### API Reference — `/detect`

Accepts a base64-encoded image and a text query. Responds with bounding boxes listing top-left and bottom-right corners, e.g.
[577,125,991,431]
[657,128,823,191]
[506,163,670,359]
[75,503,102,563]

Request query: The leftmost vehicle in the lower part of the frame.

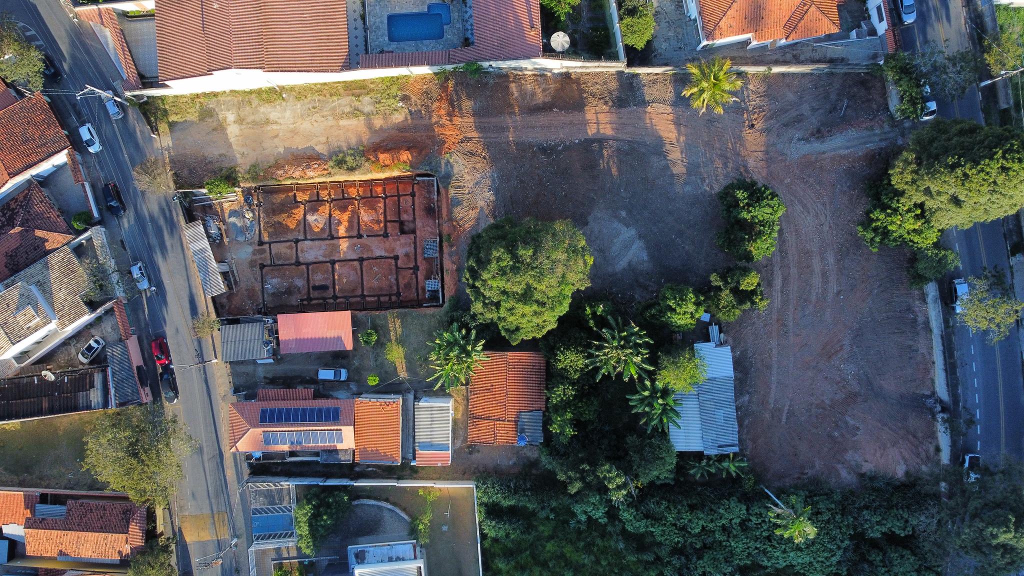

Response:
[81,334,108,365]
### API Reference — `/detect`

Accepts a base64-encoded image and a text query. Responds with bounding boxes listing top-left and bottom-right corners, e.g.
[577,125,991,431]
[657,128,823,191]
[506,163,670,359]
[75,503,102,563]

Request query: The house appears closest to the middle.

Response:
[468,351,545,445]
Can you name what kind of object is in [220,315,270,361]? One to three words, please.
shed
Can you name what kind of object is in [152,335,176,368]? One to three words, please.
car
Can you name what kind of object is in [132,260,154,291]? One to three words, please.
car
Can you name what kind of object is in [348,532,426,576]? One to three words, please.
house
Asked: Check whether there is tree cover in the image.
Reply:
Yes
